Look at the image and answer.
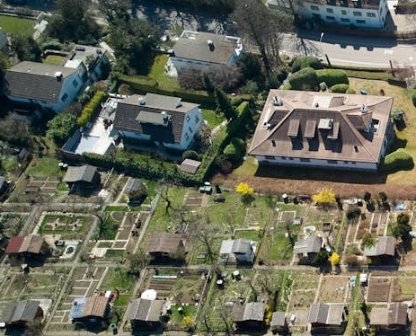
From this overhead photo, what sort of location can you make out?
residential area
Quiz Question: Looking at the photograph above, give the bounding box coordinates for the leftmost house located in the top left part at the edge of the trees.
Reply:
[6,46,110,118]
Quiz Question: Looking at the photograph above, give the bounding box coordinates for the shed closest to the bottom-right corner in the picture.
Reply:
[370,302,410,333]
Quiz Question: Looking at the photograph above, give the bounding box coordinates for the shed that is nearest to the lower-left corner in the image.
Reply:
[2,299,52,329]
